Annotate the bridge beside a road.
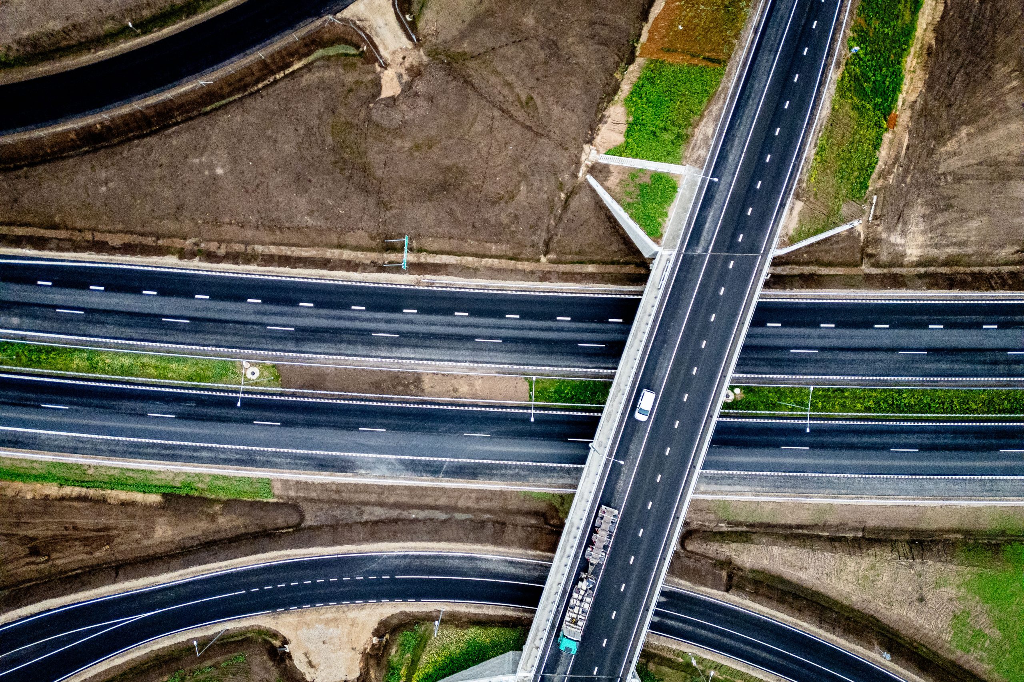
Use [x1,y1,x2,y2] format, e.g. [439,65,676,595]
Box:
[517,246,777,682]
